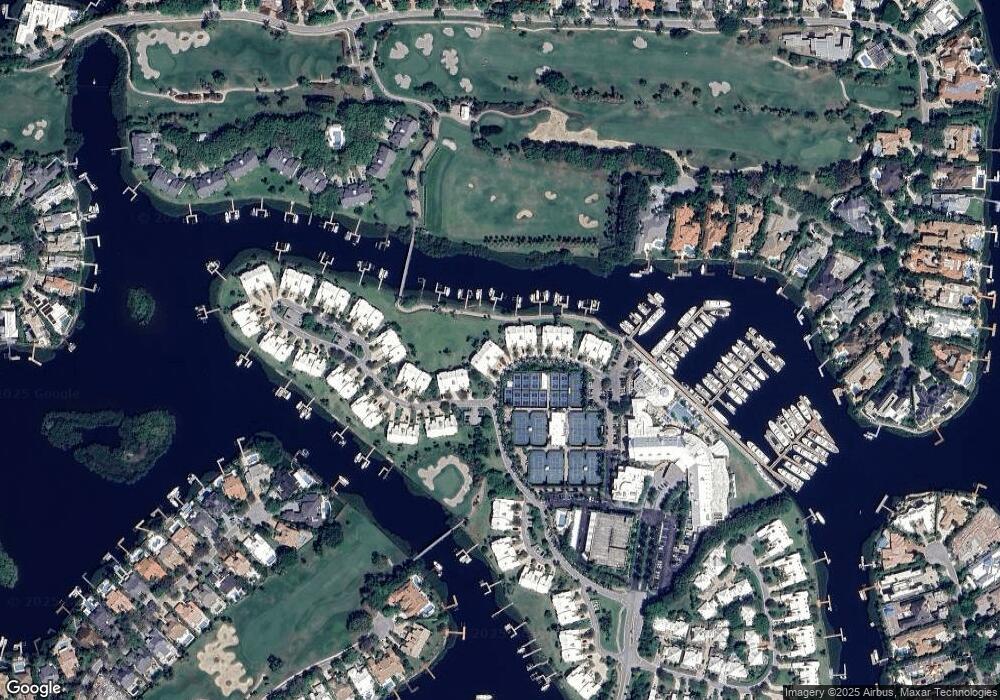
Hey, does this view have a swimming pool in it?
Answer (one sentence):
Yes, there's a swimming pool here.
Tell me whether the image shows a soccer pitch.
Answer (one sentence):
No, I can see no soccer pitch in this picture.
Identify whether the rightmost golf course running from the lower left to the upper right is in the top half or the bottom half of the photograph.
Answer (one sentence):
Seen from above, the rightmost golf course running from the lower left to the upper right lies in the bottom half of the view.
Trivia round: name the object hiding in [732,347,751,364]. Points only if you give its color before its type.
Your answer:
white boat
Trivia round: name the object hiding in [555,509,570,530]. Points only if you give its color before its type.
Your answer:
white swimming pool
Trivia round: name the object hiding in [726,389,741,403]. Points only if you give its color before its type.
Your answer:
white boat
